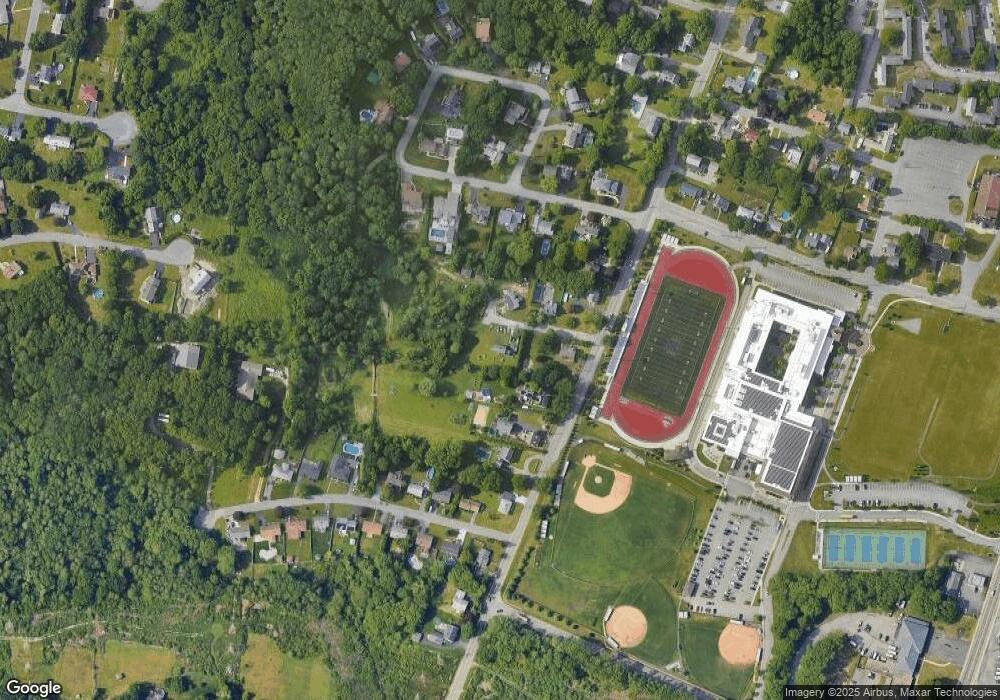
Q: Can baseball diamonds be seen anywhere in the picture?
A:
Yes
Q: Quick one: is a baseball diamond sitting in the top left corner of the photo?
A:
No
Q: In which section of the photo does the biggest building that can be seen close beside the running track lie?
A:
right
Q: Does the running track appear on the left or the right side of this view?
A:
right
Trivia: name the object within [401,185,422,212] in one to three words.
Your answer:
house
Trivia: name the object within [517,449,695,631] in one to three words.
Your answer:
baseball field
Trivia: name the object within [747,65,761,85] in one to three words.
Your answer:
swimming pool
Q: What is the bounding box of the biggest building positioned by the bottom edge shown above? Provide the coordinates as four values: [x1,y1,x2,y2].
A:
[893,614,931,676]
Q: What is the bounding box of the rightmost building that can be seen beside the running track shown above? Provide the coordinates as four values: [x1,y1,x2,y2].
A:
[702,288,846,492]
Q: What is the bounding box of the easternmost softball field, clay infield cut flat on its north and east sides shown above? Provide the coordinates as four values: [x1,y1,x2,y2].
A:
[681,619,760,700]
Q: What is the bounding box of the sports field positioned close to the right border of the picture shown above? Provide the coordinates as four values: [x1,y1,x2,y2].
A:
[822,300,1000,521]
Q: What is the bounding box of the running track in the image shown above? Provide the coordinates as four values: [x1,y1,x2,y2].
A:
[603,242,735,442]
